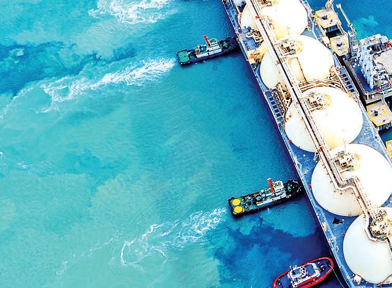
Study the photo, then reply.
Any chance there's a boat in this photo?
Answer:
Yes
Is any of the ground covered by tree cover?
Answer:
No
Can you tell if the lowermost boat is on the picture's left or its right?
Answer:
right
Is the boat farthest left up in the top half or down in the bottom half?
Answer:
top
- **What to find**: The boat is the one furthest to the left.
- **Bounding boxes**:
[176,35,238,66]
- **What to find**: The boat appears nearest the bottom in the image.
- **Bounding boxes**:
[272,258,335,288]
